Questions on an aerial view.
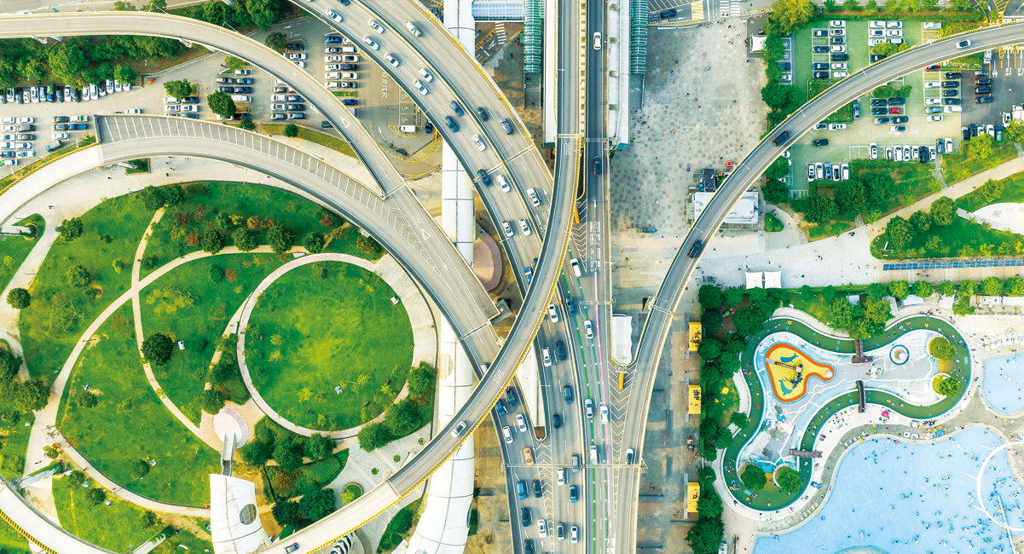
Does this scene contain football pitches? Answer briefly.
No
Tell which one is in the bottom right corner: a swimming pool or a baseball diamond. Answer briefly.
swimming pool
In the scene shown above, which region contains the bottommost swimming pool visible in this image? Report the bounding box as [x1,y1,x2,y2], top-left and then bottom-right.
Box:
[750,423,1024,554]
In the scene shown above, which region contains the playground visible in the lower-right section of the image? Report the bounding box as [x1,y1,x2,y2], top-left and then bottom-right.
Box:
[741,332,941,476]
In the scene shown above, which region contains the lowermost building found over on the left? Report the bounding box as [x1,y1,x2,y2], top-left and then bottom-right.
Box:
[210,471,272,554]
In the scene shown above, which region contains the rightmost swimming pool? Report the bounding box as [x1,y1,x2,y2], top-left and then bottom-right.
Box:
[978,349,1024,418]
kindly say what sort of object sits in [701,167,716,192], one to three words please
building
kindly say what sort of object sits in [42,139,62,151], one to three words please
vehicle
